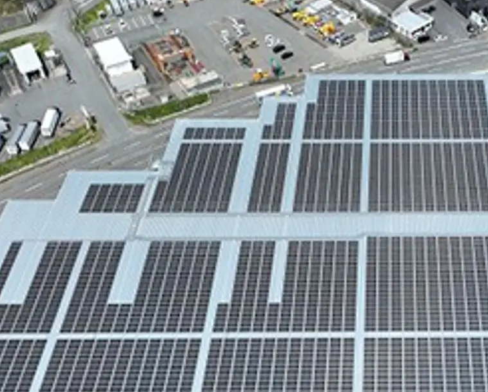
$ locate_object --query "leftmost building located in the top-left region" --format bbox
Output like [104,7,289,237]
[11,43,46,84]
